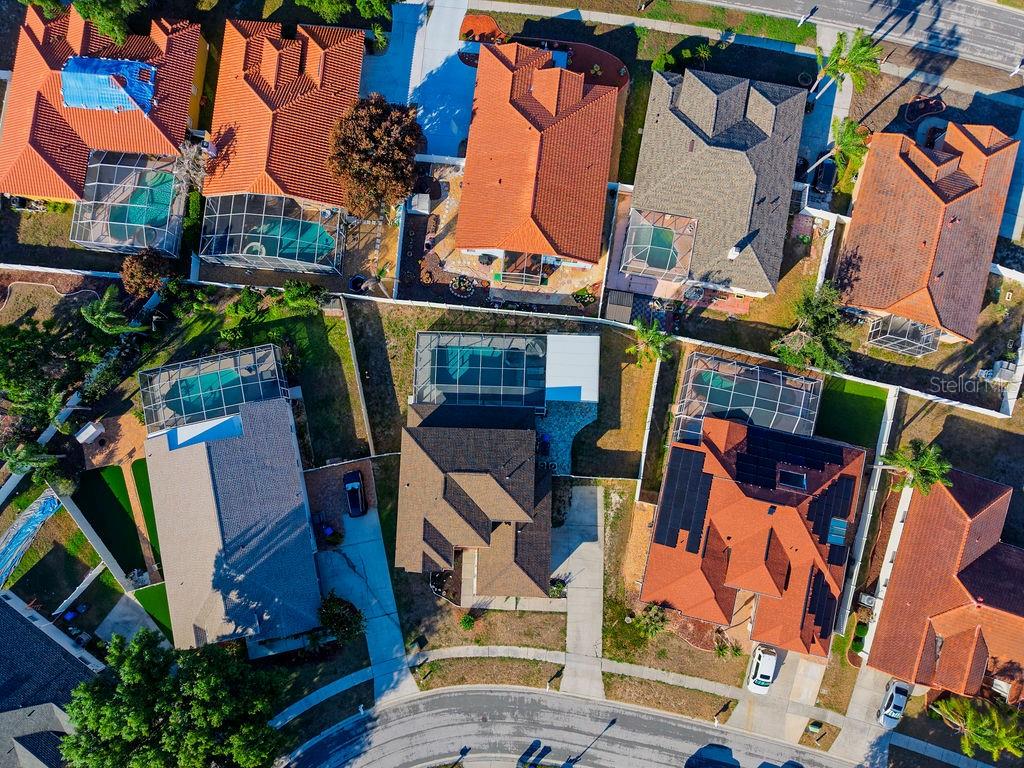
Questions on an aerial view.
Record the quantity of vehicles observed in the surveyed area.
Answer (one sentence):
In total, there are 4 vehicles in the scene.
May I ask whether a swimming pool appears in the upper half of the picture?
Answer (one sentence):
Yes, looking in the upper half of the picture, one can make out a swimming pool.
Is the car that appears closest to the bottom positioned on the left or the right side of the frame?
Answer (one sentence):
The car that appears closest to the bottom is on the right side of the image.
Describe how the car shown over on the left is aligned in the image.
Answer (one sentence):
I'd say the car shown over on the left is aligned up and down in the picture.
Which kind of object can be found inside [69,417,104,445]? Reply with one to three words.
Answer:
shed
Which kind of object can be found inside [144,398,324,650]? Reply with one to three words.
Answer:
house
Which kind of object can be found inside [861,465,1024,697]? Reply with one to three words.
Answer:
house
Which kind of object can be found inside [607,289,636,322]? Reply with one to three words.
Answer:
shed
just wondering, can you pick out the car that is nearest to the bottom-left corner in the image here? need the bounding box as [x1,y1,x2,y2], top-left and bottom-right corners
[339,468,367,520]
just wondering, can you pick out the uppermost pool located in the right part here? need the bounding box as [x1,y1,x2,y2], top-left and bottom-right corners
[630,225,680,269]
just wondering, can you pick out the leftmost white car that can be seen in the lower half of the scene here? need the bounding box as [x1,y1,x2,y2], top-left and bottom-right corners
[745,642,779,696]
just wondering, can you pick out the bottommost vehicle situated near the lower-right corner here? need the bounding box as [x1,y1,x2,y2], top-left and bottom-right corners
[873,676,910,731]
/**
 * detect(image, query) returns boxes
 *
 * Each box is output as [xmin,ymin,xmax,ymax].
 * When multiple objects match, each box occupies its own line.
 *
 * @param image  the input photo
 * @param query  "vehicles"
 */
[873,676,910,731]
[745,642,779,696]
[339,468,367,520]
[813,153,835,199]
